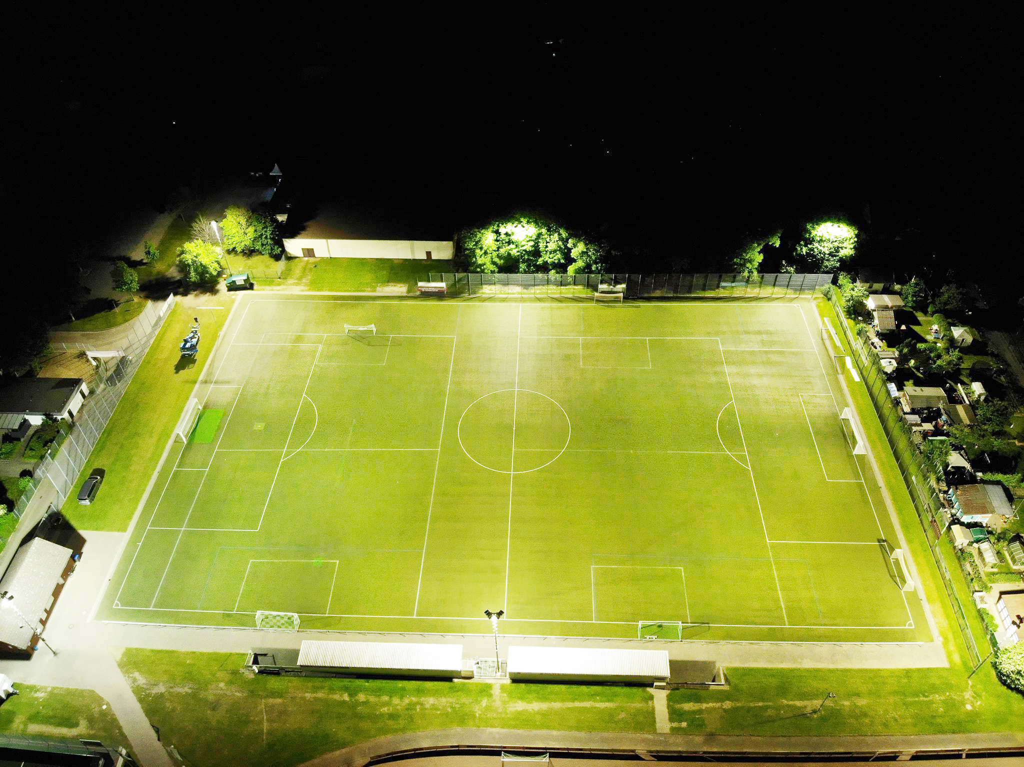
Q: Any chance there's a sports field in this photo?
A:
Yes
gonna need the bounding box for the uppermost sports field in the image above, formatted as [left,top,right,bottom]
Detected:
[95,294,934,642]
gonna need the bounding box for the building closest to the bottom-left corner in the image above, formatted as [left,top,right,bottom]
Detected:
[0,537,79,658]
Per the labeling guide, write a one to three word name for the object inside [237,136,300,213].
house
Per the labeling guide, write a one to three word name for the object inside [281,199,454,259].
building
